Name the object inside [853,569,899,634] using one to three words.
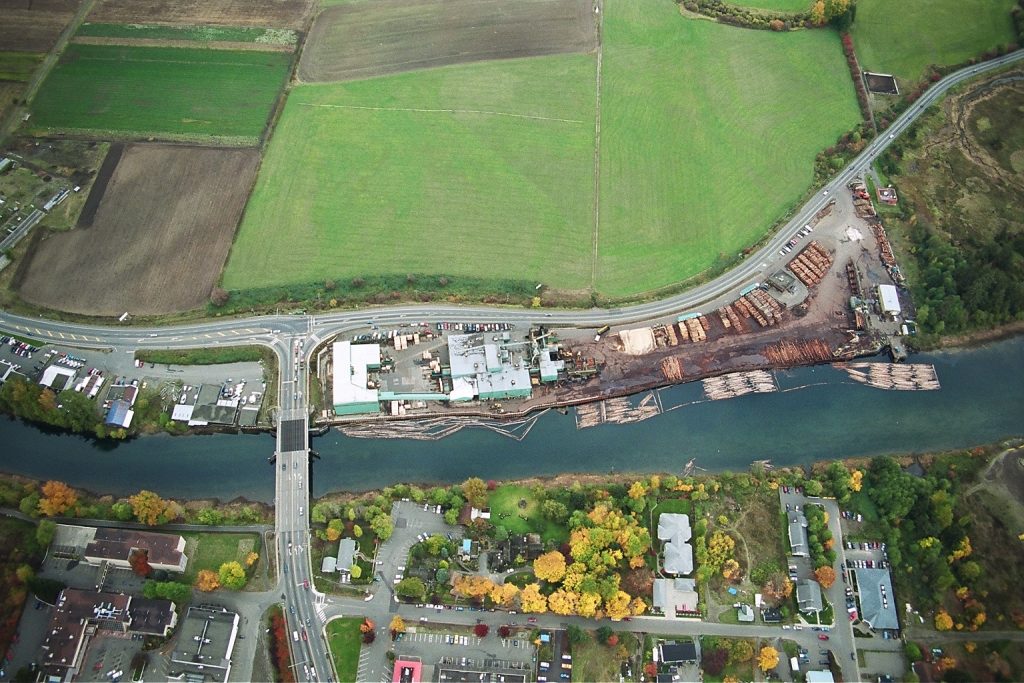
building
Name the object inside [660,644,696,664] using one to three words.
house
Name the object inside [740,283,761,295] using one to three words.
vehicle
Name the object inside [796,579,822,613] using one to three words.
house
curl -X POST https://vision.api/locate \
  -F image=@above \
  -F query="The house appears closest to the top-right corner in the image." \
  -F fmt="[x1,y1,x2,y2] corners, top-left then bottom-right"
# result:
[877,187,896,207]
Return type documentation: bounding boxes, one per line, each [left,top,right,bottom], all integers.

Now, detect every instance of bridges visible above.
[268,406,330,531]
